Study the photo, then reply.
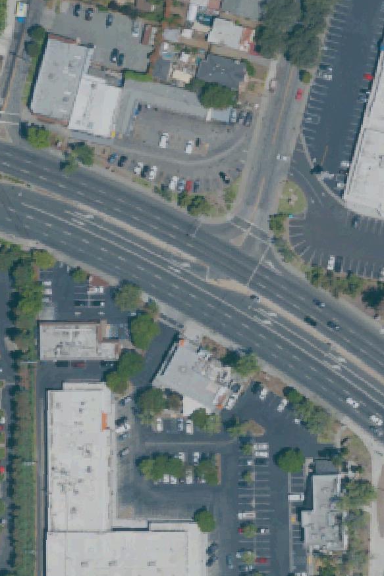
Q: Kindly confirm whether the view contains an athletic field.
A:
No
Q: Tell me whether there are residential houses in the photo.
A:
Yes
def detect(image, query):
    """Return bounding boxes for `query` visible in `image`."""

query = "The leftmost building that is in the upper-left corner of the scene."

[31,33,95,129]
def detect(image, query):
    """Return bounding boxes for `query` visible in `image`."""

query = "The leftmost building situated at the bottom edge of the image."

[45,379,208,576]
